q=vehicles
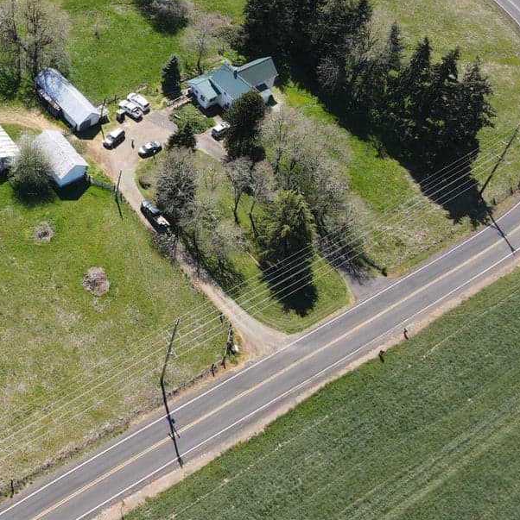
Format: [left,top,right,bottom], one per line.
[208,122,227,137]
[104,128,127,147]
[129,93,151,110]
[138,142,162,156]
[142,204,170,230]
[118,100,143,118]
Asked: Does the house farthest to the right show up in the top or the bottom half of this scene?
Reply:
top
